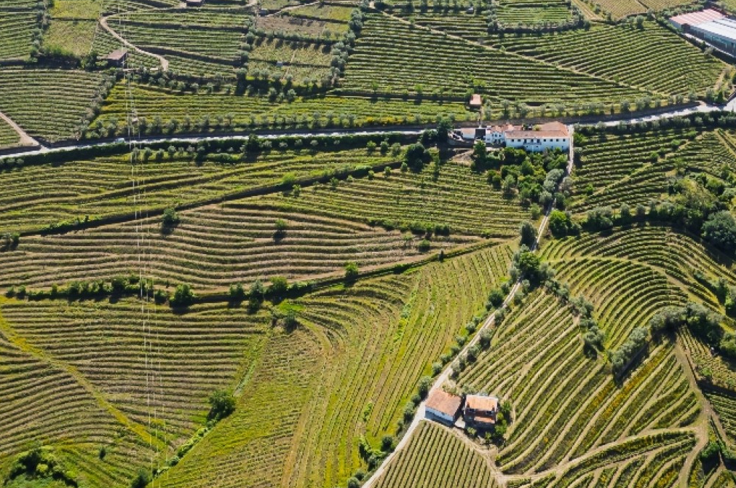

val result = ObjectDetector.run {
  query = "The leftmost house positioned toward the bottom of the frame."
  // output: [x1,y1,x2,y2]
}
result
[423,388,462,425]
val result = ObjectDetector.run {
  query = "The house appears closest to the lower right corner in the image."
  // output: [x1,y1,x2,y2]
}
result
[463,392,498,432]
